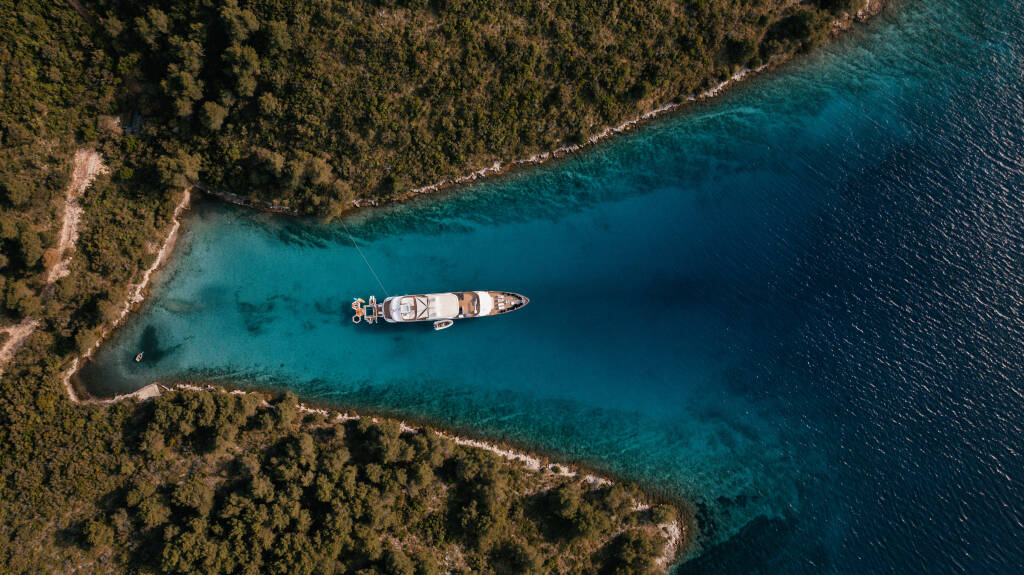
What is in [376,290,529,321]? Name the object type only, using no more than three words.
boat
